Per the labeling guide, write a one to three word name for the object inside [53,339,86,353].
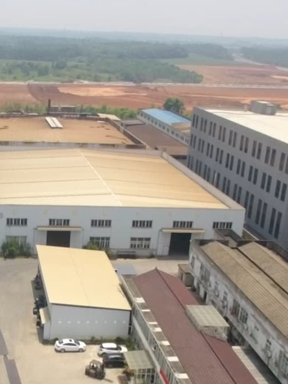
vehicle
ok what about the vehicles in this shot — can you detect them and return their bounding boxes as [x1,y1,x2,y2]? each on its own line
[53,339,86,353]
[94,341,125,356]
[86,359,106,381]
[99,353,129,366]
